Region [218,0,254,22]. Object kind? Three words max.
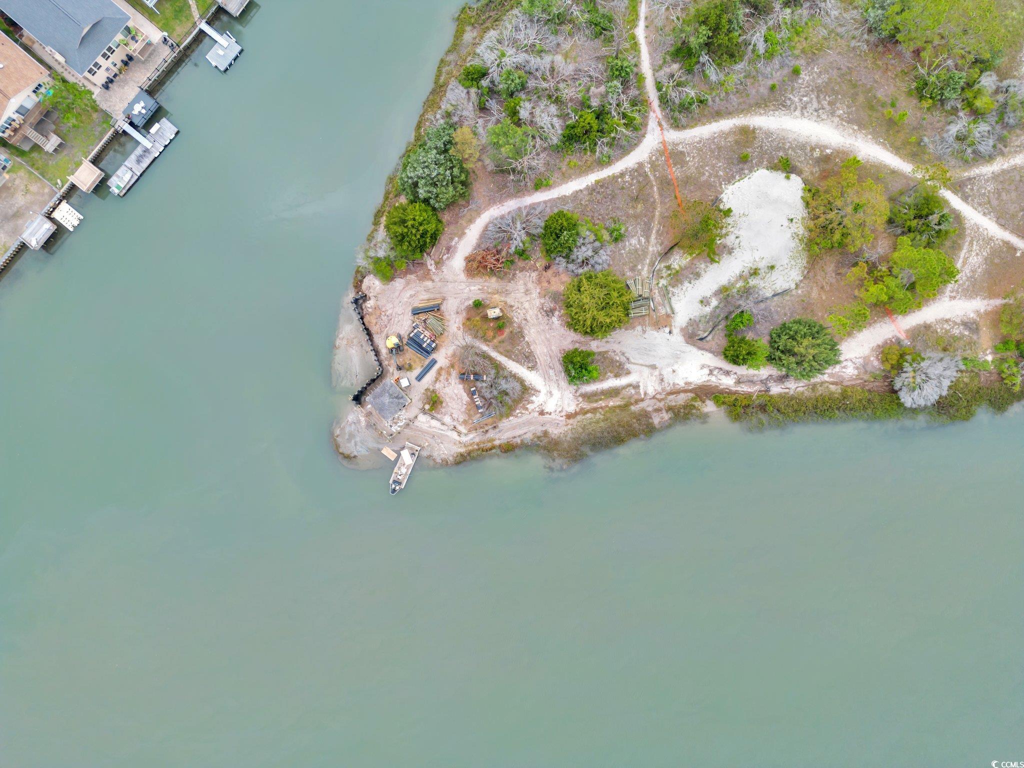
pier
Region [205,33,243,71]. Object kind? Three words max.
pier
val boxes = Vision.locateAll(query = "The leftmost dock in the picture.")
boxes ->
[16,215,64,250]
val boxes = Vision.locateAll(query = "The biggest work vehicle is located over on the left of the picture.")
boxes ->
[385,330,405,371]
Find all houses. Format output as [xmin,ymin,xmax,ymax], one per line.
[0,32,62,144]
[0,0,136,87]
